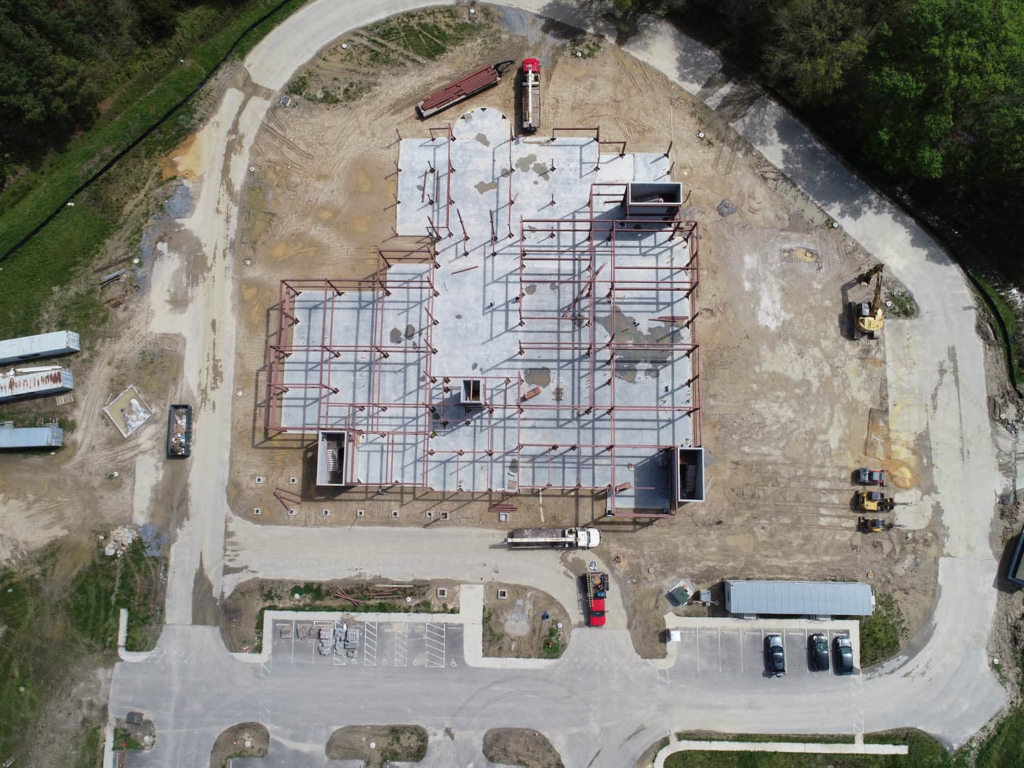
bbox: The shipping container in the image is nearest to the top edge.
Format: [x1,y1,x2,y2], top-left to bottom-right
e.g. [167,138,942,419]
[0,331,80,362]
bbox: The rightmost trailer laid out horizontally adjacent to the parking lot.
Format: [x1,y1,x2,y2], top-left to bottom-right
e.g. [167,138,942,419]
[725,580,873,615]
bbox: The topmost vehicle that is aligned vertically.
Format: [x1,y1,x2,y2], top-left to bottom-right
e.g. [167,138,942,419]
[521,62,544,131]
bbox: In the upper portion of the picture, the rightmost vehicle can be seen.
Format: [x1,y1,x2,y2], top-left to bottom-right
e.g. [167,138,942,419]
[854,263,886,340]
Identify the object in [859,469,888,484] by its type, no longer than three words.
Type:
work vehicle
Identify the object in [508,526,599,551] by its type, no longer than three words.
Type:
truck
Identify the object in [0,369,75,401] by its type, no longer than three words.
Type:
shipping container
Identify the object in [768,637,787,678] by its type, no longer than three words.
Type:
car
